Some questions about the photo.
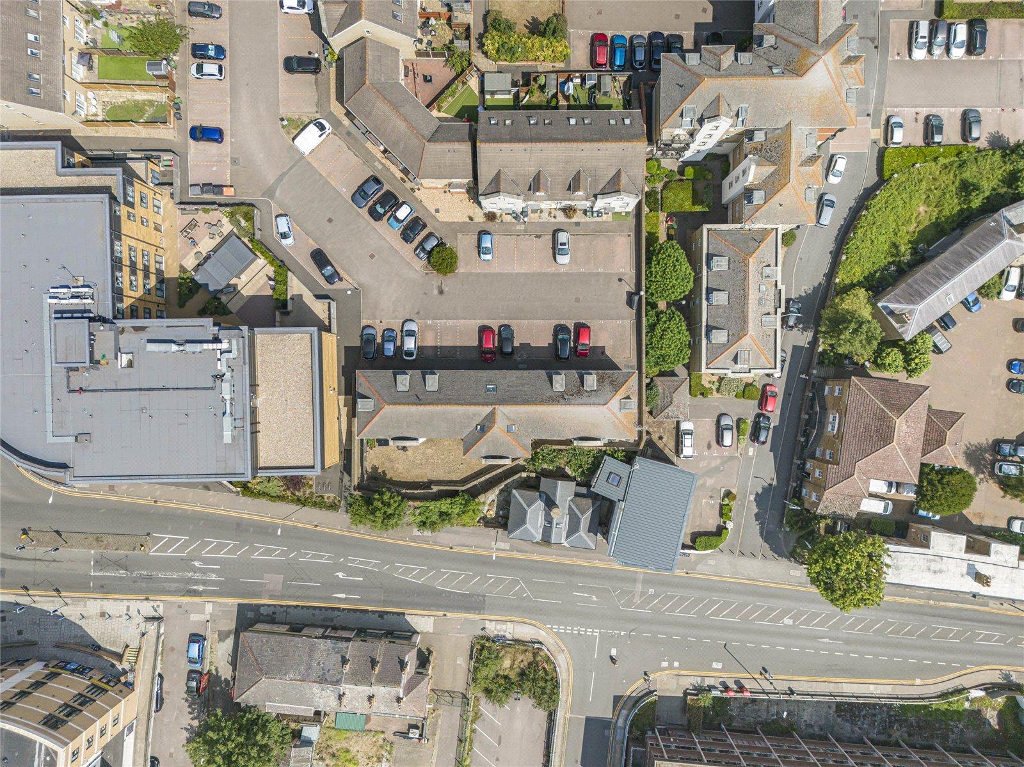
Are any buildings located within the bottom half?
Yes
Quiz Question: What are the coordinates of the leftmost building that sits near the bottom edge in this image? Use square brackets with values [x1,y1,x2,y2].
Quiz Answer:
[0,659,137,767]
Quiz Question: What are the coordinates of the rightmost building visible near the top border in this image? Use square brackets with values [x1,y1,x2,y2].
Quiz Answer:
[647,0,865,239]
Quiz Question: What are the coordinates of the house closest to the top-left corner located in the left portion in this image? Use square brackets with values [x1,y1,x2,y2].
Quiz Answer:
[0,0,84,125]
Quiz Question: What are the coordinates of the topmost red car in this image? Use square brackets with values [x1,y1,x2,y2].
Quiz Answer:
[592,37,608,69]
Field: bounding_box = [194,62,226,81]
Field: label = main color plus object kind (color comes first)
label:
white car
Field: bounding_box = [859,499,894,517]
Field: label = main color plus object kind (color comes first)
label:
white vehicle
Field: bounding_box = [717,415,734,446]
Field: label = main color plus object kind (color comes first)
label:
gray car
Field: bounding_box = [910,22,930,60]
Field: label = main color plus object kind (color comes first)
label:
white car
